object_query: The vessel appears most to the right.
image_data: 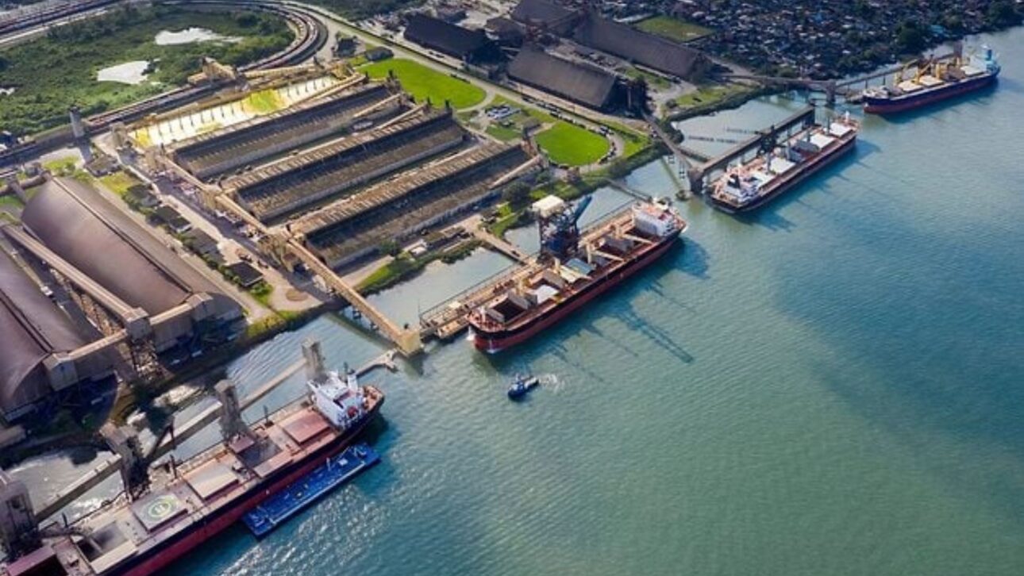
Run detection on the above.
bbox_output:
[862,45,999,109]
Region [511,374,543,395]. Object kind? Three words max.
boat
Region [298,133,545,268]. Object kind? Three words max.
shed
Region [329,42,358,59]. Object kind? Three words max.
building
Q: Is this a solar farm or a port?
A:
port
